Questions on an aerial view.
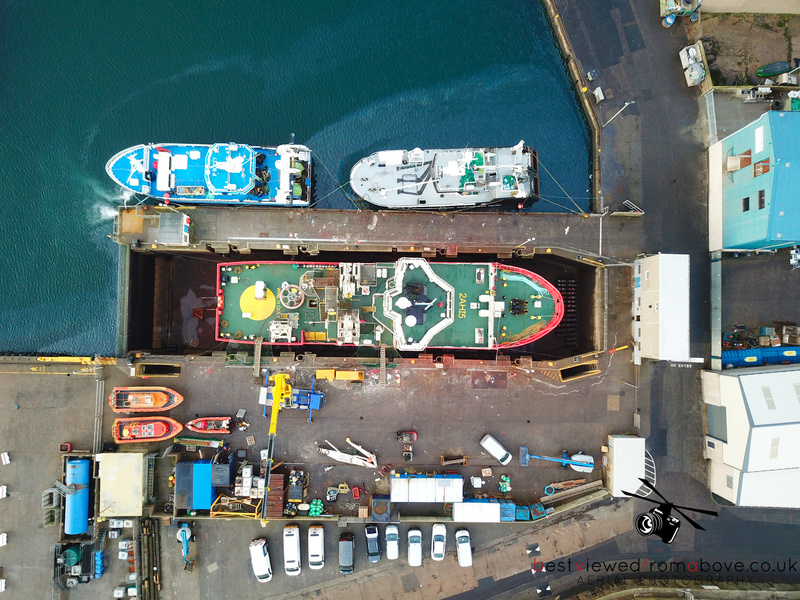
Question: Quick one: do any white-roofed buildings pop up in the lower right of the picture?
Yes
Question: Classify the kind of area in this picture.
port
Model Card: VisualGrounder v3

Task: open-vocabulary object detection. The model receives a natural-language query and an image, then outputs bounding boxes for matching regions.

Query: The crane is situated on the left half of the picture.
[259,371,327,527]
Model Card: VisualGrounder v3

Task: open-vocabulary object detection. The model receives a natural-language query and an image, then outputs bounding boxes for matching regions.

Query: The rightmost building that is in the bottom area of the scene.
[699,368,800,507]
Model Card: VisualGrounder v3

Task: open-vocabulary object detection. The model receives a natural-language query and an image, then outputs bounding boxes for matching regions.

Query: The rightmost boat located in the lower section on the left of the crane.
[184,417,237,434]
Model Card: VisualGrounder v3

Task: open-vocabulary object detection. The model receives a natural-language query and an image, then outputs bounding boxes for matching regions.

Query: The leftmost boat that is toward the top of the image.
[105,131,315,207]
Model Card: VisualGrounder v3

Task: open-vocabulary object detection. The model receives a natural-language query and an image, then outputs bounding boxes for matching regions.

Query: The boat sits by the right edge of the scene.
[753,62,790,77]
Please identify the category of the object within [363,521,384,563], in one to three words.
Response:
vehicle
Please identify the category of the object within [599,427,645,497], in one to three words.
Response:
building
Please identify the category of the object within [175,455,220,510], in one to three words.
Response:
building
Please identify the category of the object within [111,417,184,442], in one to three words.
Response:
boat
